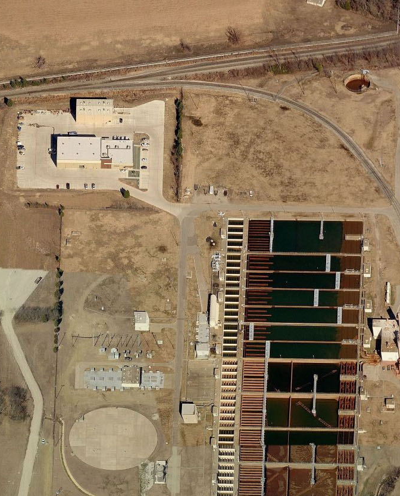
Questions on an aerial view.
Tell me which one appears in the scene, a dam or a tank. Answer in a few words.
tank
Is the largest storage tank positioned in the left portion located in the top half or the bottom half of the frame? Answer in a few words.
bottom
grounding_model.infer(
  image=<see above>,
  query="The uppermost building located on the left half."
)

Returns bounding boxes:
[76,99,113,124]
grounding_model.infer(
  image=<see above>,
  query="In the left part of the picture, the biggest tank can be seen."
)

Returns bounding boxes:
[69,407,158,471]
